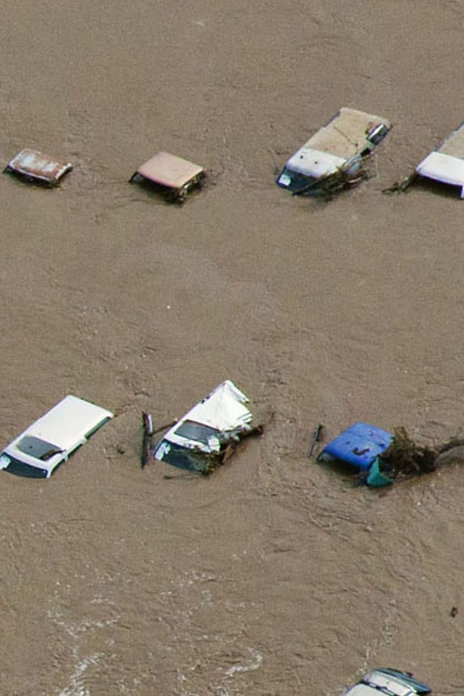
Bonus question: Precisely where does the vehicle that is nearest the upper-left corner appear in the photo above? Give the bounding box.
[4,149,73,191]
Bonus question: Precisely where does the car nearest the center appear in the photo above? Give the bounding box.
[153,380,253,477]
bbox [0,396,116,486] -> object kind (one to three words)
car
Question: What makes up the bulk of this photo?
water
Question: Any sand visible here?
No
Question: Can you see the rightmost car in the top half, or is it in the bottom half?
top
